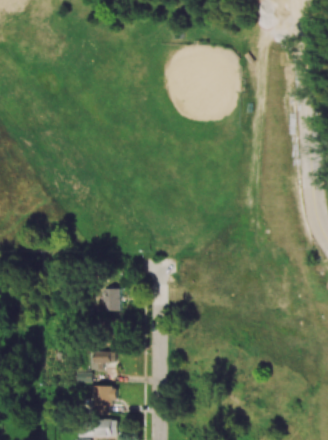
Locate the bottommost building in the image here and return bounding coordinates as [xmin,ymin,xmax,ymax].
[78,420,118,438]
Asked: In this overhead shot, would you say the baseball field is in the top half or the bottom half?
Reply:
top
